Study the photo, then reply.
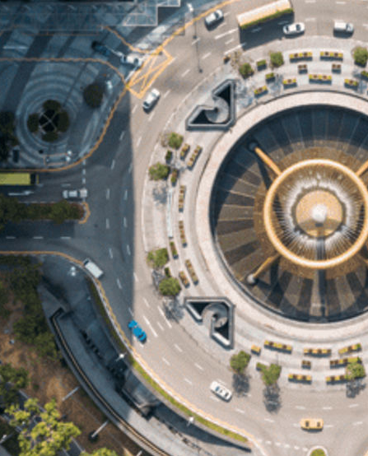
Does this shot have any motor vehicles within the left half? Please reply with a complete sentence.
Yes, you'll find a motor vehicle within the left half.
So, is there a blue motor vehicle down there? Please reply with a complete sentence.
Yes, this view includes a blue motor vehicle.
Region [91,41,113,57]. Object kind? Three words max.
car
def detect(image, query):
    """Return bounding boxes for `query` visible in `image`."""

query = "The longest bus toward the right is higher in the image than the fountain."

[232,1,292,32]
